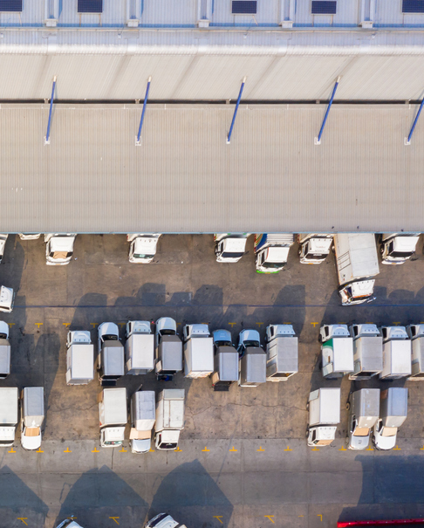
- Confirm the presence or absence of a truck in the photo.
Yes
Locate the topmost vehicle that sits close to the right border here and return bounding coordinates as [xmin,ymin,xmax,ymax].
[381,235,417,266]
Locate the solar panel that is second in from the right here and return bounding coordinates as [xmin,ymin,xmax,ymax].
[312,0,338,24]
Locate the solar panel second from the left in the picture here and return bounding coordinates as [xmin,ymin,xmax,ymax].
[77,0,103,23]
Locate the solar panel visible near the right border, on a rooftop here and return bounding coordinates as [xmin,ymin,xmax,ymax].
[403,0,424,24]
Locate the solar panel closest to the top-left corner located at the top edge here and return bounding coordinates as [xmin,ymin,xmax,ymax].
[0,0,23,23]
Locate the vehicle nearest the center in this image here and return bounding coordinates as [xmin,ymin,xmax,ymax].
[215,235,245,263]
